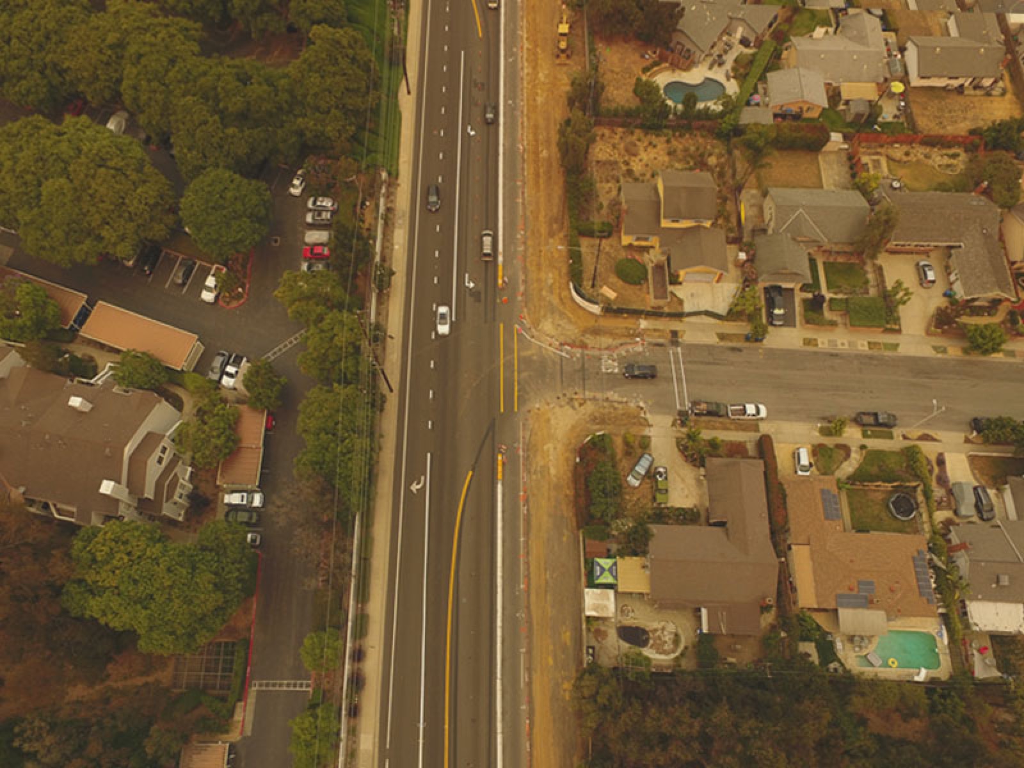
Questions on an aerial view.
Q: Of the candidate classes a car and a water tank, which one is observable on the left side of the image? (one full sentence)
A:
The feature located on the left side of the image is a car.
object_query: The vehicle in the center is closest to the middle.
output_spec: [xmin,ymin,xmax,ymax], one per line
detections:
[435,304,450,336]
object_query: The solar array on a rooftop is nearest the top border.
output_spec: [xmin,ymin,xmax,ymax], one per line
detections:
[821,490,840,521]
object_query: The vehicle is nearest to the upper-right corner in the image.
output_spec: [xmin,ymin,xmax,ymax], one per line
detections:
[917,260,938,288]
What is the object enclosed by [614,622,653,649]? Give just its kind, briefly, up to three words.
swimming pool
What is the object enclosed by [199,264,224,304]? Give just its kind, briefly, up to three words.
truck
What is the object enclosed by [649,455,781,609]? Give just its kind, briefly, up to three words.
house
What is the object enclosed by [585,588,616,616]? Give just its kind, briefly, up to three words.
shed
